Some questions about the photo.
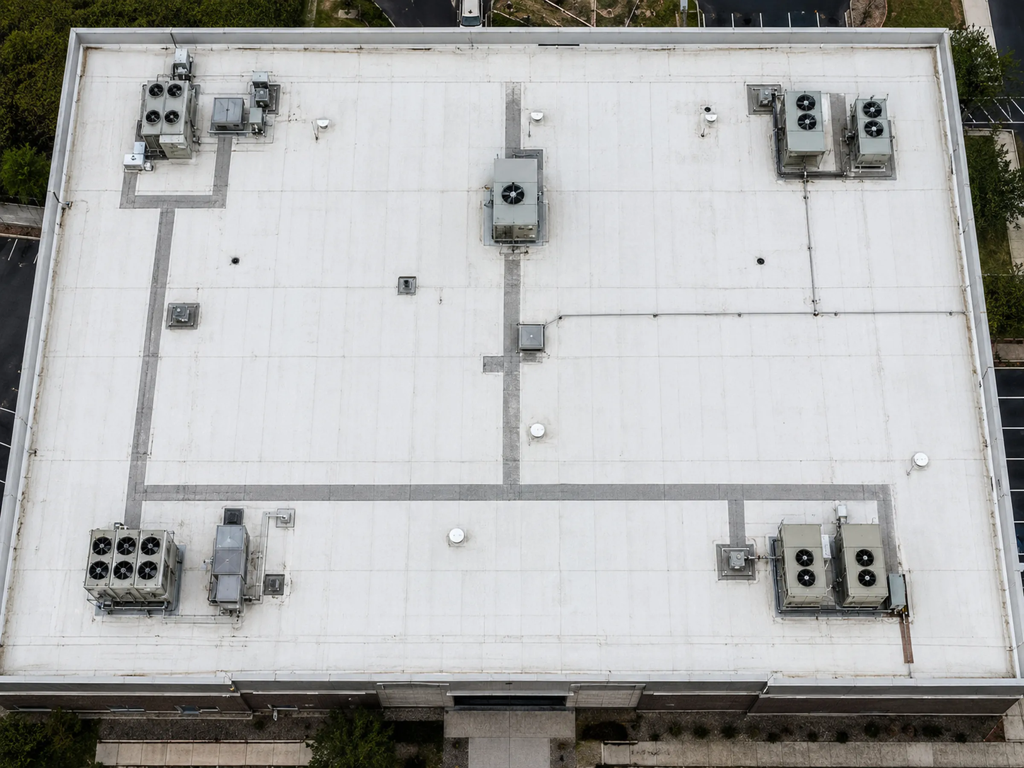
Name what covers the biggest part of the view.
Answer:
buildings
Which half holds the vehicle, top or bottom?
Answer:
top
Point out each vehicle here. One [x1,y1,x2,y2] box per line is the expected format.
[458,0,484,27]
